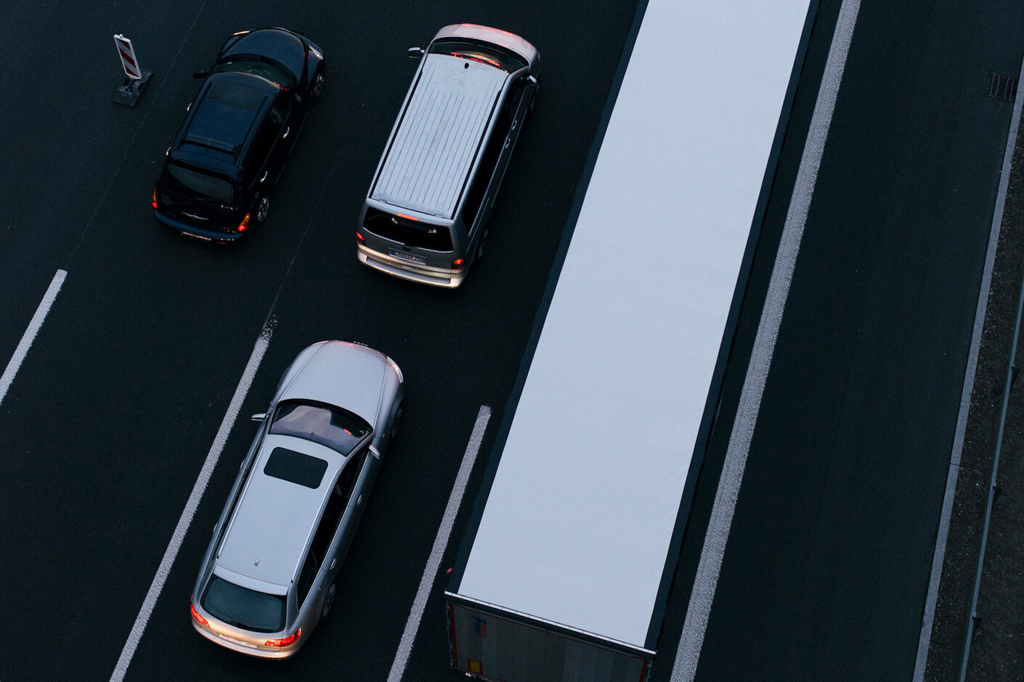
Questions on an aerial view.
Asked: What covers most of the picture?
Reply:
paved ground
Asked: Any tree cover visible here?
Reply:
No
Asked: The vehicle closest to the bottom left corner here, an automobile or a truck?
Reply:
automobile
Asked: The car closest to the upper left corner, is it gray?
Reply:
No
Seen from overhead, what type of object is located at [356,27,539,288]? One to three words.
van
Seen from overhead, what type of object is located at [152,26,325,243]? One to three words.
car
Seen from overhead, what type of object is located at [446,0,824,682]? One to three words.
trailer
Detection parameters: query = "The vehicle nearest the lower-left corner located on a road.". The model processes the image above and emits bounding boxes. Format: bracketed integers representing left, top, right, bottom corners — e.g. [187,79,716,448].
[193,338,403,663]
